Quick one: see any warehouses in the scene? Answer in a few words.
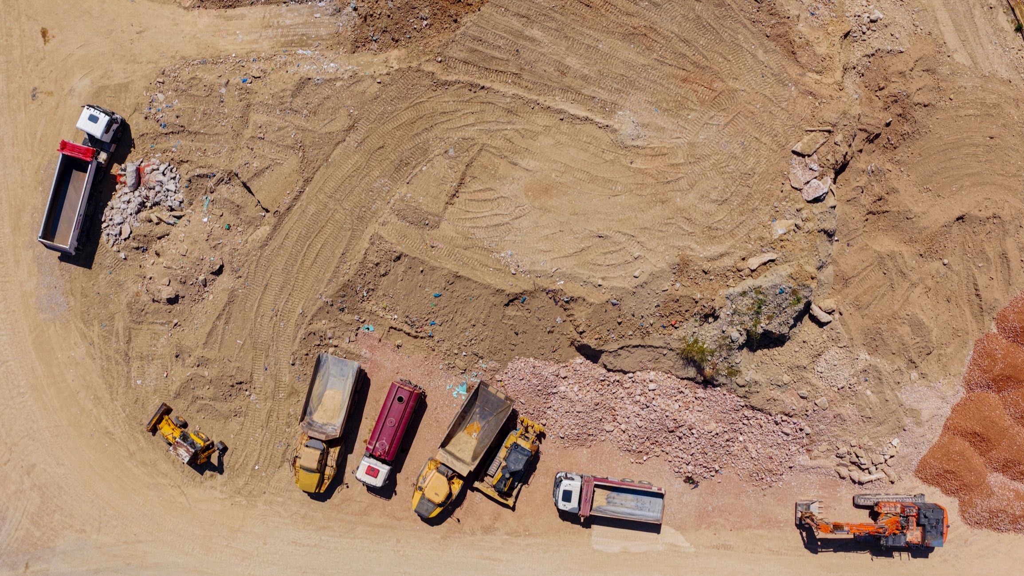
No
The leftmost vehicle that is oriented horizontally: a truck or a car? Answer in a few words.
truck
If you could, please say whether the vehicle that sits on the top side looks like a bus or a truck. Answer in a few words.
truck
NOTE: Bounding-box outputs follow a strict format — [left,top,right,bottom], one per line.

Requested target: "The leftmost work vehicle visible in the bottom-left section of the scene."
[150,402,227,467]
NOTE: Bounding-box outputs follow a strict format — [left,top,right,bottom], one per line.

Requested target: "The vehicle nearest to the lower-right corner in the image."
[796,494,949,549]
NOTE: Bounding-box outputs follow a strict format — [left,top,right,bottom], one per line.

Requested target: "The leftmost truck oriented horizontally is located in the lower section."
[549,468,666,524]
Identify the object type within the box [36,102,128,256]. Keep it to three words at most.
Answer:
truck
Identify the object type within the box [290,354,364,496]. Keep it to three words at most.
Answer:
truck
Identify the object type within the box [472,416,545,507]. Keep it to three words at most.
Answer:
work vehicle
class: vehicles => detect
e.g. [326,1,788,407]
[150,402,227,467]
[290,354,364,496]
[36,102,128,256]
[796,494,949,549]
[346,372,426,498]
[472,416,545,507]
[412,381,516,519]
[549,468,666,524]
